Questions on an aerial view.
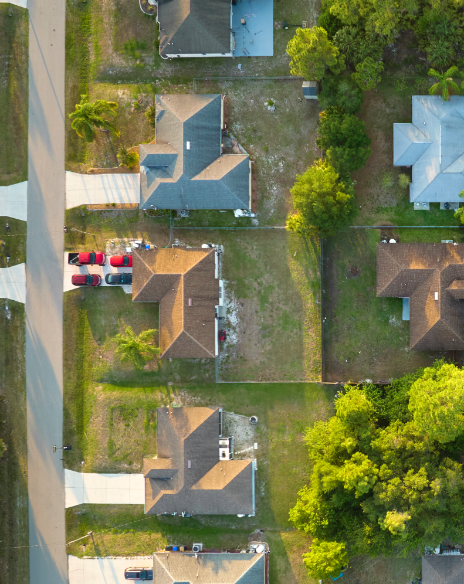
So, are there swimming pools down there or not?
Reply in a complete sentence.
No, I find no swimming pool anywhere in the image.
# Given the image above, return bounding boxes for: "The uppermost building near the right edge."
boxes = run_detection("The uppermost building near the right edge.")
[393,95,464,203]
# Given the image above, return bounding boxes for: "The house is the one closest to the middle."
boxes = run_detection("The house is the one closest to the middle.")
[132,247,221,359]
